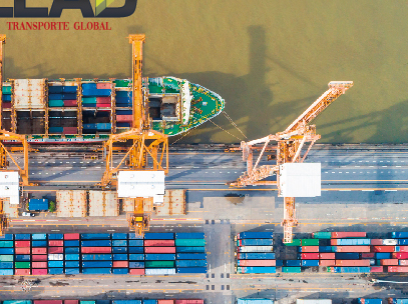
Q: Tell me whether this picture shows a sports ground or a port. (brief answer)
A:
port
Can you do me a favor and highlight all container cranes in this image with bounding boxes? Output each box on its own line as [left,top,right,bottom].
[0,34,42,234]
[228,76,356,245]
[92,34,170,234]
